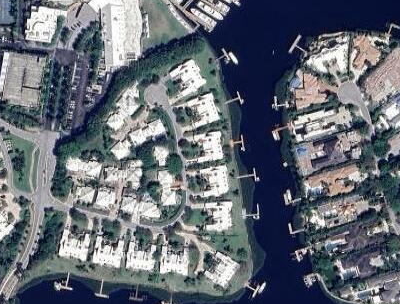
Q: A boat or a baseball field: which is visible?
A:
boat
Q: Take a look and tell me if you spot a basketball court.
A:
No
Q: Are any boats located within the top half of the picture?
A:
Yes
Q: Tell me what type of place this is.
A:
residential area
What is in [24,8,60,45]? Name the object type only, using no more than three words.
building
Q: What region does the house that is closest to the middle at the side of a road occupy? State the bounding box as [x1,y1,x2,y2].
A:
[189,133,222,163]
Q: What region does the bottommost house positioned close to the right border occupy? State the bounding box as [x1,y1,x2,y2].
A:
[344,266,400,304]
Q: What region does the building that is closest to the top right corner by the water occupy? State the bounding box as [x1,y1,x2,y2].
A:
[349,34,383,70]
